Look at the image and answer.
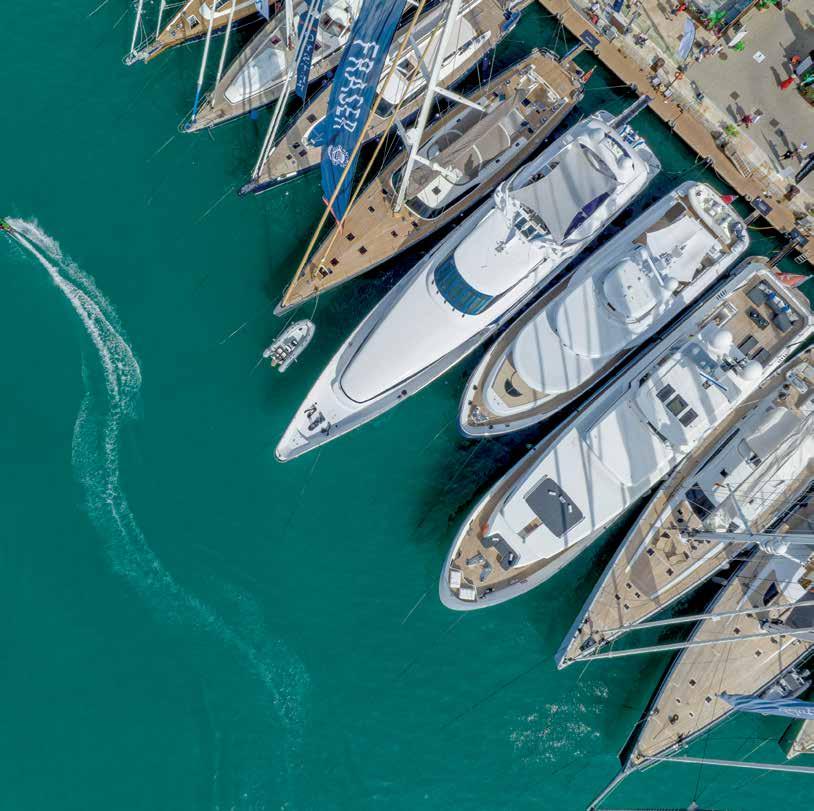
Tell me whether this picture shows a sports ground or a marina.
marina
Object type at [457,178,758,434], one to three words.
boat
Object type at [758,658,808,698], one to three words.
boat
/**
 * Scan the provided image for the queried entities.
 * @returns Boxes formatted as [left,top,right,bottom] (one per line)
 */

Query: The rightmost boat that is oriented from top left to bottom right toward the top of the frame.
[692,186,746,253]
